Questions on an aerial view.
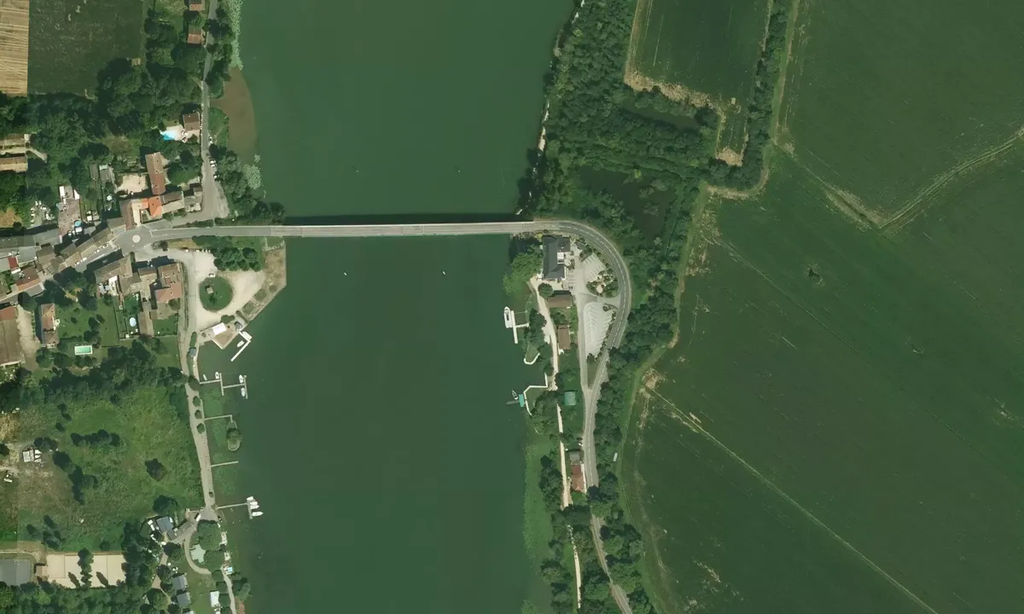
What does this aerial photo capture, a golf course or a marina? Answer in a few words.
marina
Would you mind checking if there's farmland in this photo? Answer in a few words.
Yes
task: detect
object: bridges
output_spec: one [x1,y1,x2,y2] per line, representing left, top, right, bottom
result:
[284,222,516,237]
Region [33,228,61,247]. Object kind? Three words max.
building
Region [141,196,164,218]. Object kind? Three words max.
house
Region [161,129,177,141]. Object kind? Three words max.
swimming pool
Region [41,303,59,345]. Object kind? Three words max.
house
